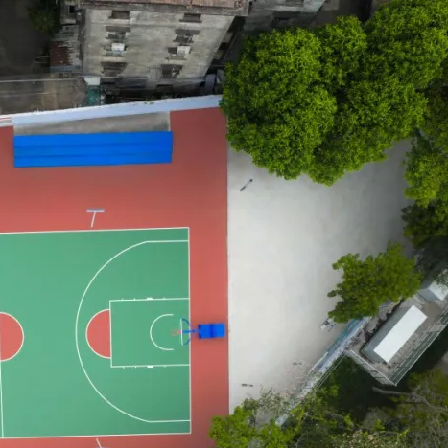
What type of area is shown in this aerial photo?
sports ground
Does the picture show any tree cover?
Yes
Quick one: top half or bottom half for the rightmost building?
bottom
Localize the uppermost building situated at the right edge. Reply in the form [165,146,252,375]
[415,281,448,303]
